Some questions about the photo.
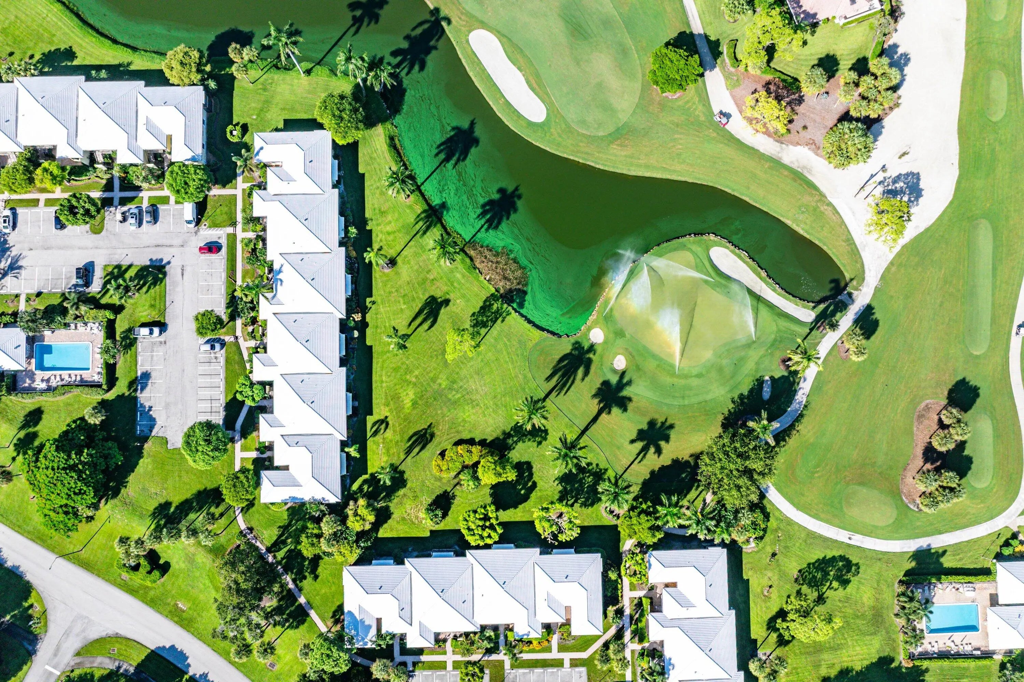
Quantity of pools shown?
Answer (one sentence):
The number of pools here is 2.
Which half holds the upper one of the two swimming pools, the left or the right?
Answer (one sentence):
The upper one of the two swimming pools sits on the left side.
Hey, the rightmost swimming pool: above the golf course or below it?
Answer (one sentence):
The rightmost swimming pool is found below the golf course in the photo.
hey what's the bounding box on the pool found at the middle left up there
[11,322,98,392]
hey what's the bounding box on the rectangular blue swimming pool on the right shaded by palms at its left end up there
[902,584,1014,659]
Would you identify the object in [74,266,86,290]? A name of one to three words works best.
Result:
vehicle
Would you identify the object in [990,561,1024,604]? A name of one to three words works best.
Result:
building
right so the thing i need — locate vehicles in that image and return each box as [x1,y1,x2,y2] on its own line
[199,343,222,353]
[0,209,12,232]
[143,205,154,226]
[198,245,218,255]
[181,201,195,228]
[53,208,65,229]
[74,266,86,290]
[130,327,161,338]
[127,208,138,230]
[116,212,126,223]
